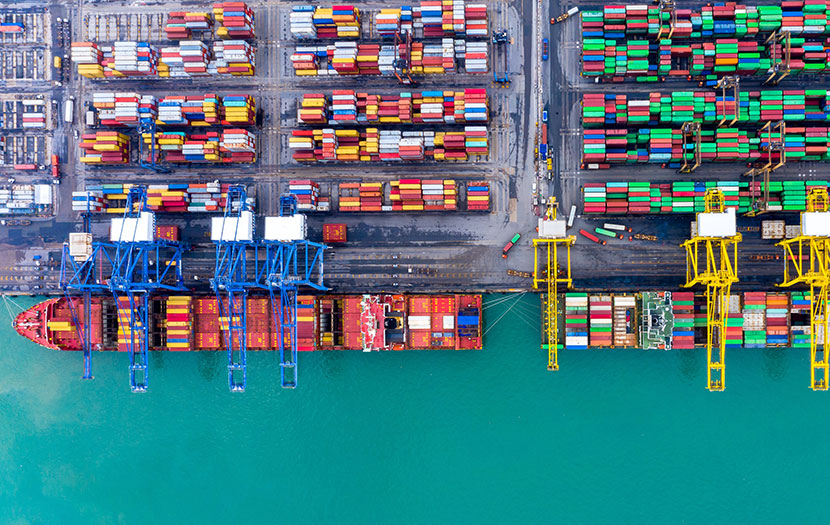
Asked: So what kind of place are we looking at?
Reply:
port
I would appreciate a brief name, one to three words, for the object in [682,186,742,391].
container crane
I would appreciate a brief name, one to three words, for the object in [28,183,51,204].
shed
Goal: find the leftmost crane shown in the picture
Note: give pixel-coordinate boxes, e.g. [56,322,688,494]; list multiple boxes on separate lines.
[62,191,143,379]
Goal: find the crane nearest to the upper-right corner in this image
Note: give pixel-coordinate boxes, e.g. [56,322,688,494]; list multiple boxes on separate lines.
[760,35,790,88]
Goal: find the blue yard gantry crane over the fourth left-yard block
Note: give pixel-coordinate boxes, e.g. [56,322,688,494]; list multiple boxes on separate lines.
[138,117,178,173]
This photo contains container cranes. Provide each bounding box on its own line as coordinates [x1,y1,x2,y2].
[779,186,830,391]
[206,177,280,391]
[260,187,330,388]
[674,120,700,174]
[529,190,575,371]
[755,122,786,171]
[62,191,143,379]
[739,168,768,218]
[105,178,190,392]
[682,186,742,391]
[138,117,178,173]
[651,0,675,44]
[712,76,740,132]
[394,29,419,86]
[760,35,790,88]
